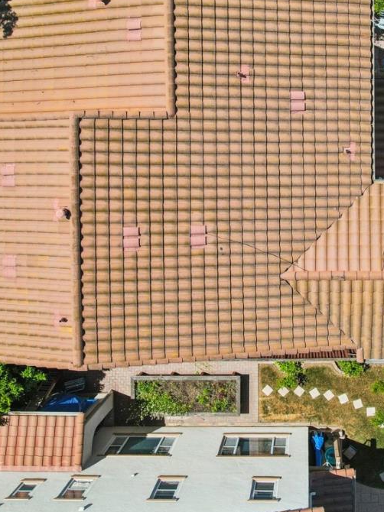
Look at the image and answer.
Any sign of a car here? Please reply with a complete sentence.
No, there is no car in the image.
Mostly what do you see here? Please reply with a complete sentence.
The largest share of the image is taken up by buildings.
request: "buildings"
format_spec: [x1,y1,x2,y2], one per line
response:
[0,0,384,372]
[0,389,357,512]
